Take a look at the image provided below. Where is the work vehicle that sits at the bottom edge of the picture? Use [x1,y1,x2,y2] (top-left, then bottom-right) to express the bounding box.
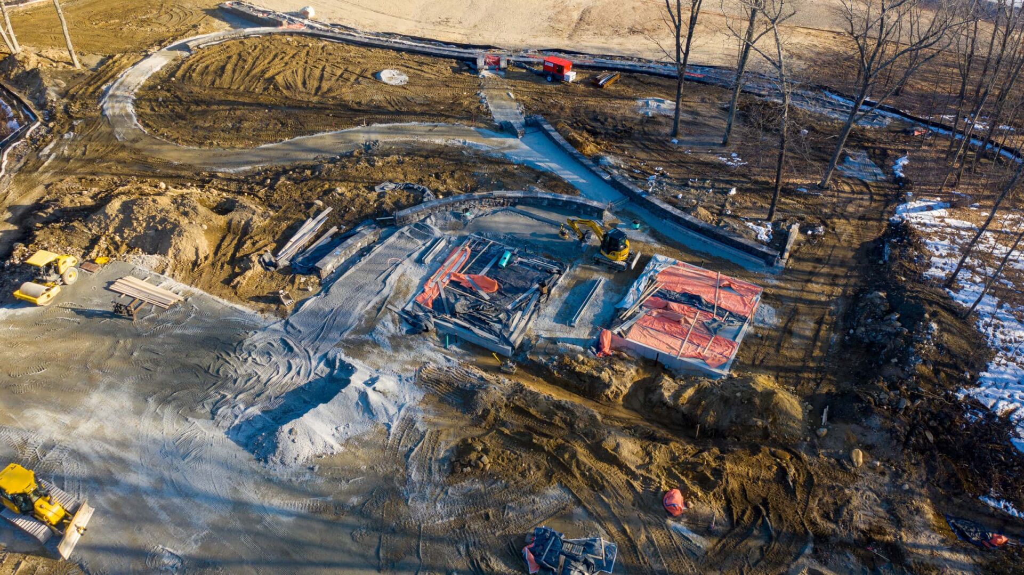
[0,466,91,555]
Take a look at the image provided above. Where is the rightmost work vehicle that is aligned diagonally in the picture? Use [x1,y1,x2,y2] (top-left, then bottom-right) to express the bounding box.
[567,211,644,276]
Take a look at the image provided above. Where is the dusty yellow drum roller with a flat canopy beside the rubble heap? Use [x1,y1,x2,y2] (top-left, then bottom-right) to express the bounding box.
[2,256,75,307]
